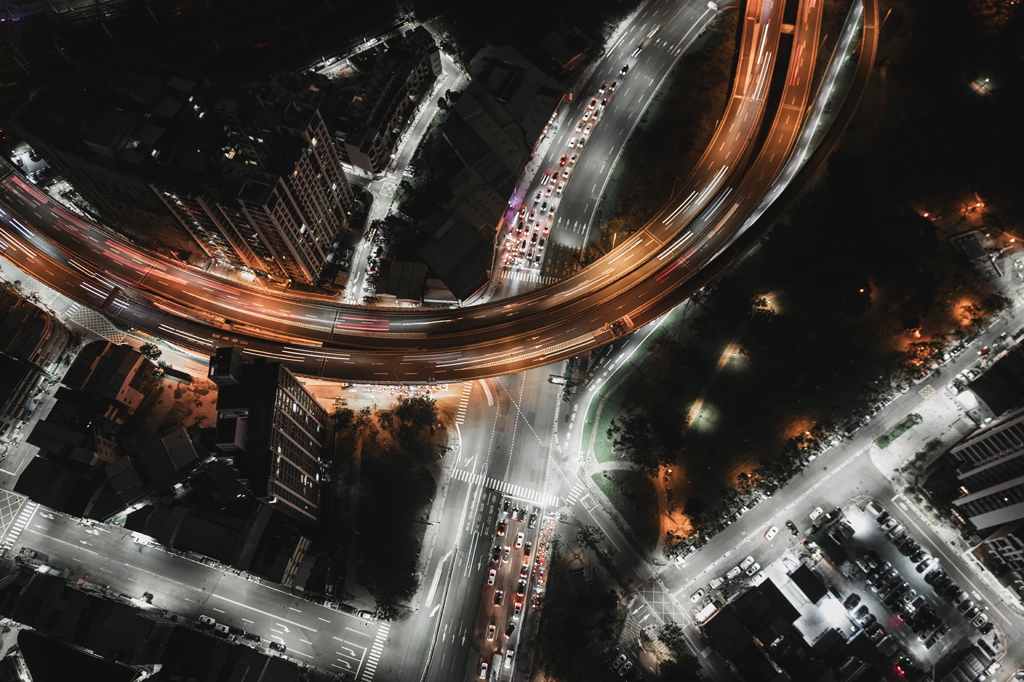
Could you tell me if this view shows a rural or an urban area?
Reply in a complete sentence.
The land in this view is best described as urban.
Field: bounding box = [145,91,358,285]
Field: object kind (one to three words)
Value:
building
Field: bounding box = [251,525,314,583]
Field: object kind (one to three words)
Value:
building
